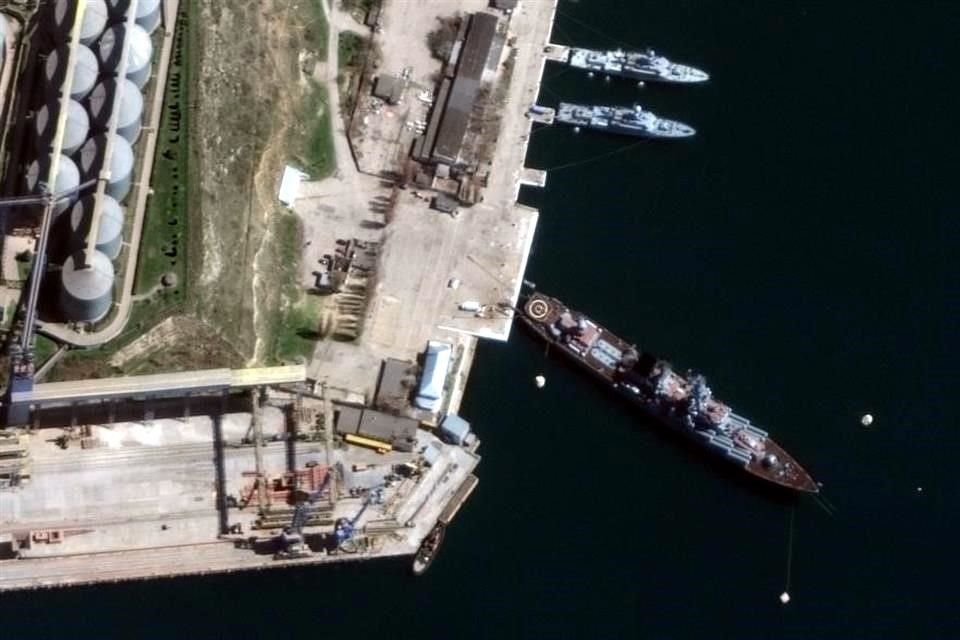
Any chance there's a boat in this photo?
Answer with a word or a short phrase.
Yes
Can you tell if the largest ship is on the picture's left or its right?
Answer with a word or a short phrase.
right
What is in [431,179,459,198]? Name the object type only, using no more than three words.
building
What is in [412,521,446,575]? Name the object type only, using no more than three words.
boat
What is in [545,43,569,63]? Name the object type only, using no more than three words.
pier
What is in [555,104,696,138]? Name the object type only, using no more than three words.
ship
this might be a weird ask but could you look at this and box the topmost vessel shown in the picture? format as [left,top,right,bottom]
[568,50,709,82]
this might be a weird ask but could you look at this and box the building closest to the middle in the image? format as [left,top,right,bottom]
[416,341,452,402]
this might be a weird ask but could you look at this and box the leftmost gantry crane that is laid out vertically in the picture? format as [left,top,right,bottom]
[248,390,278,537]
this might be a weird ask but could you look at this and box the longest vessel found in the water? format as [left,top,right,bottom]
[519,292,818,491]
